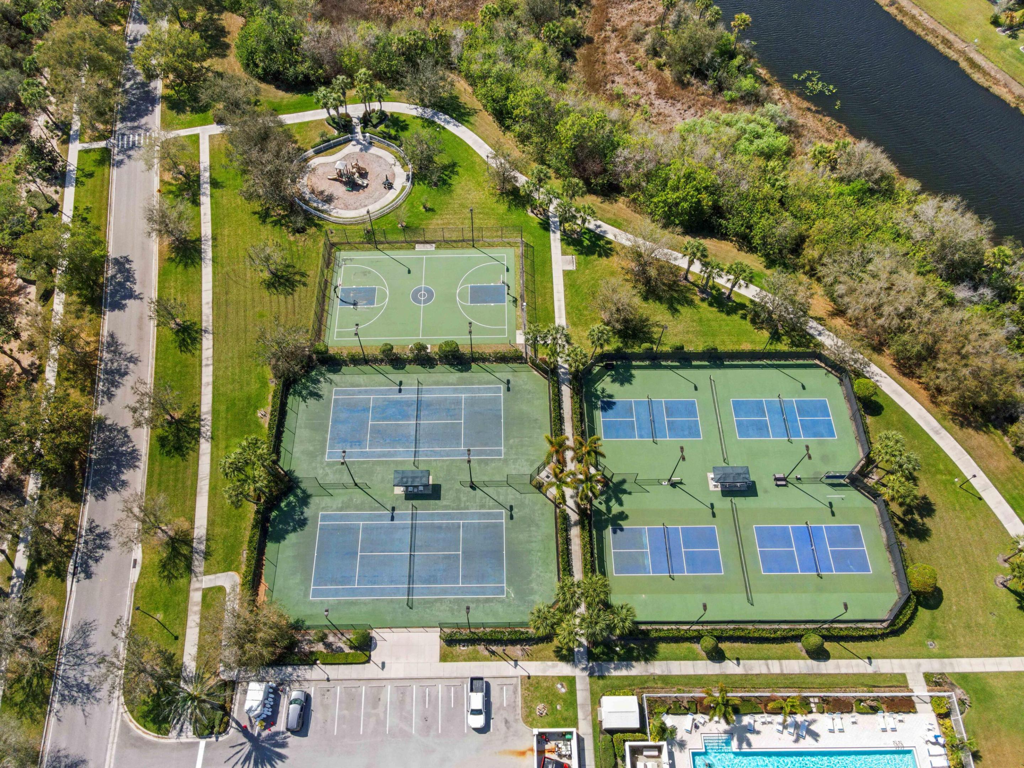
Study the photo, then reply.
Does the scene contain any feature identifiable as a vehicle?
Yes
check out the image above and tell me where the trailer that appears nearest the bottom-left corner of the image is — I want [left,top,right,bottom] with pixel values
[242,682,269,727]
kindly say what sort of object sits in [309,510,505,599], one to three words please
tennis court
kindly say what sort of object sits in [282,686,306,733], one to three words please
car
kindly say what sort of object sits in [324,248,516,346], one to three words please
basketball court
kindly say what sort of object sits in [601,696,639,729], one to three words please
shed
